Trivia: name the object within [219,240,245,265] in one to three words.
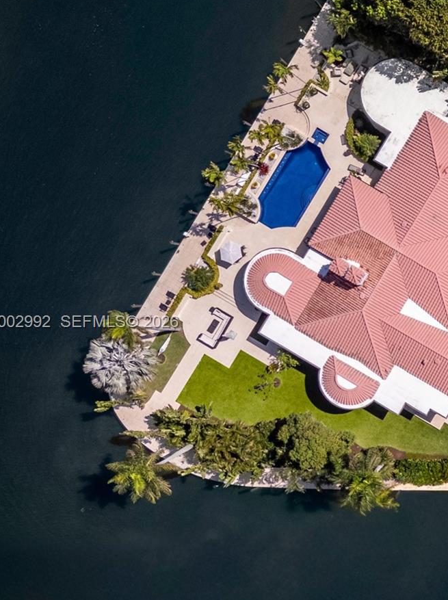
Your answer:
umbrella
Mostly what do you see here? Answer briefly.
water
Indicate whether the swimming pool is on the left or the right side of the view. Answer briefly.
right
